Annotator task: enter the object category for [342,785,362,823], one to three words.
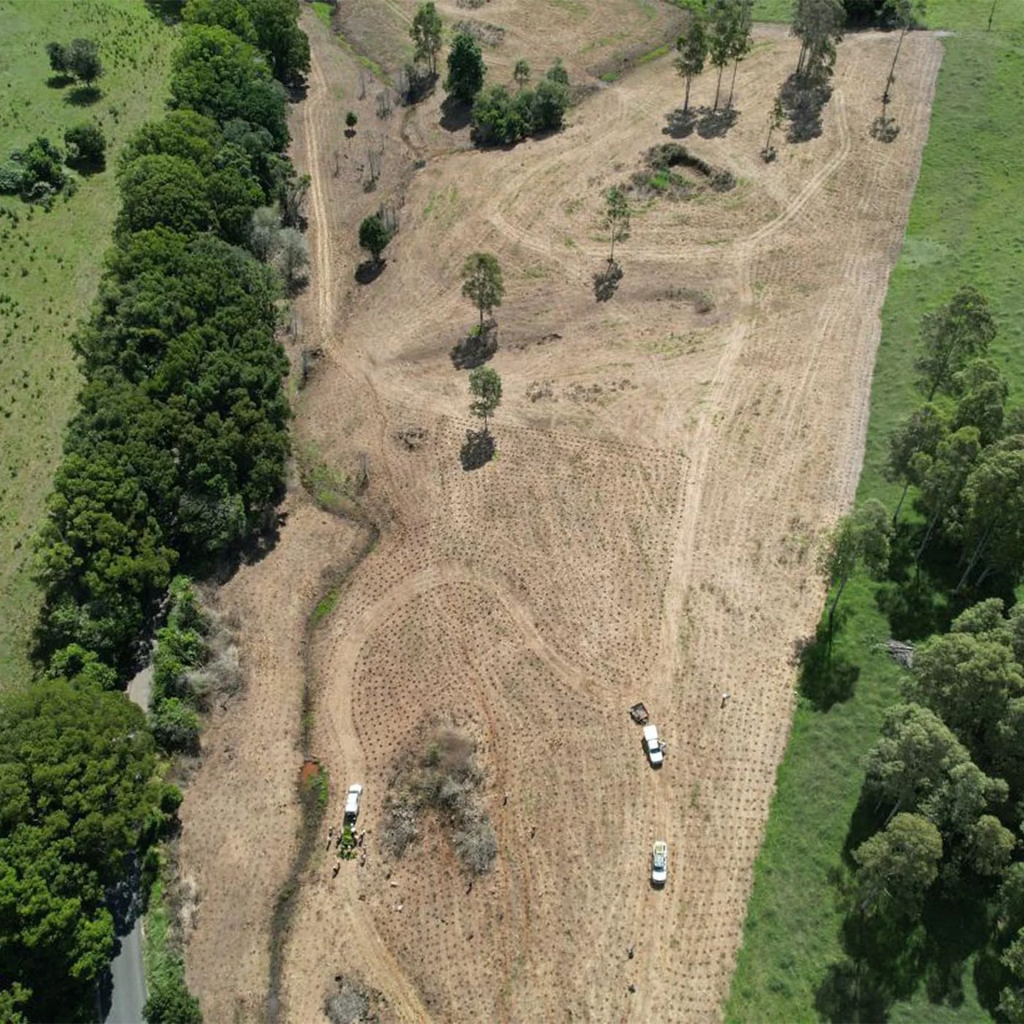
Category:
vehicle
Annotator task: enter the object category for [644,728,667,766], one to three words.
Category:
truck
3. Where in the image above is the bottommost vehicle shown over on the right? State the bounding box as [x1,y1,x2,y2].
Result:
[651,842,669,885]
